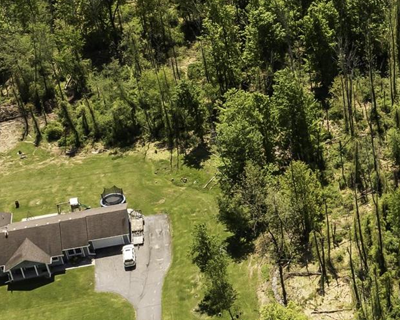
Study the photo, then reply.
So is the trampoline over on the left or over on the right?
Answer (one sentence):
You can find the trampoline on the left side of the picture.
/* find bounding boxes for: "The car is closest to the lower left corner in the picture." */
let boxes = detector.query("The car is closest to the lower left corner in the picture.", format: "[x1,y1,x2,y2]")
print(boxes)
[121,246,135,270]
